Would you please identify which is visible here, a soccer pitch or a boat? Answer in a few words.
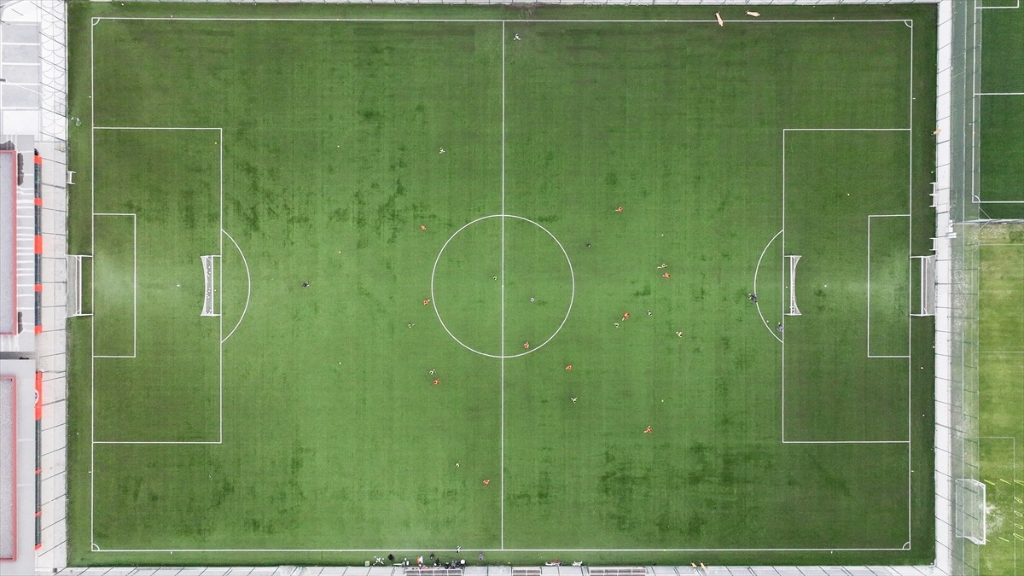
soccer pitch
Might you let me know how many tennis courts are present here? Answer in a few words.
none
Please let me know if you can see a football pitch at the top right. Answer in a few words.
Yes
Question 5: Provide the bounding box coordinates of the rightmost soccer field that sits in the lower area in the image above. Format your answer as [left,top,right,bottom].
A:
[962,224,1024,576]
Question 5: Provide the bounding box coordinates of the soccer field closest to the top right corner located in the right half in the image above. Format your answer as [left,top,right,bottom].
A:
[951,0,1024,222]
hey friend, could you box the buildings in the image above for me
[0,135,43,351]
[0,358,44,576]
